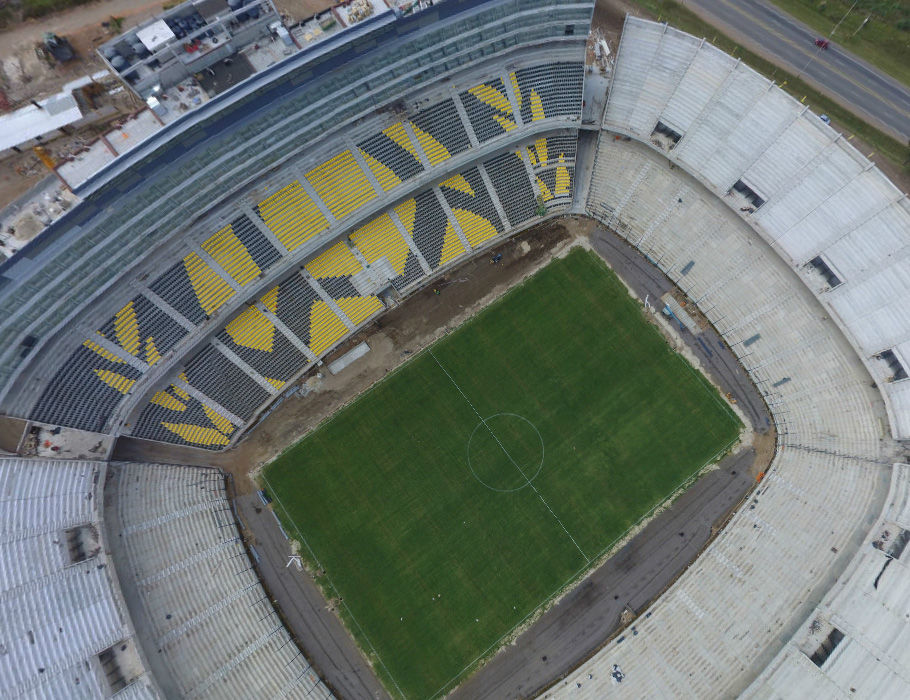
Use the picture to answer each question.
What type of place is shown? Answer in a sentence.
The picture captures a sports ground.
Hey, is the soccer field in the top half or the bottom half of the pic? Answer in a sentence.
It is in the bottom half that the soccer field appears.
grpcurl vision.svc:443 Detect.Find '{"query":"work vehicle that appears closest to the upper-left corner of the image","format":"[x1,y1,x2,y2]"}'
[43,30,74,62]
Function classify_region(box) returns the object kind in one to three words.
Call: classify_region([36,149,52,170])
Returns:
work vehicle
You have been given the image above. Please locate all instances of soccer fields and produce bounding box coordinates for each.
[255,242,746,700]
